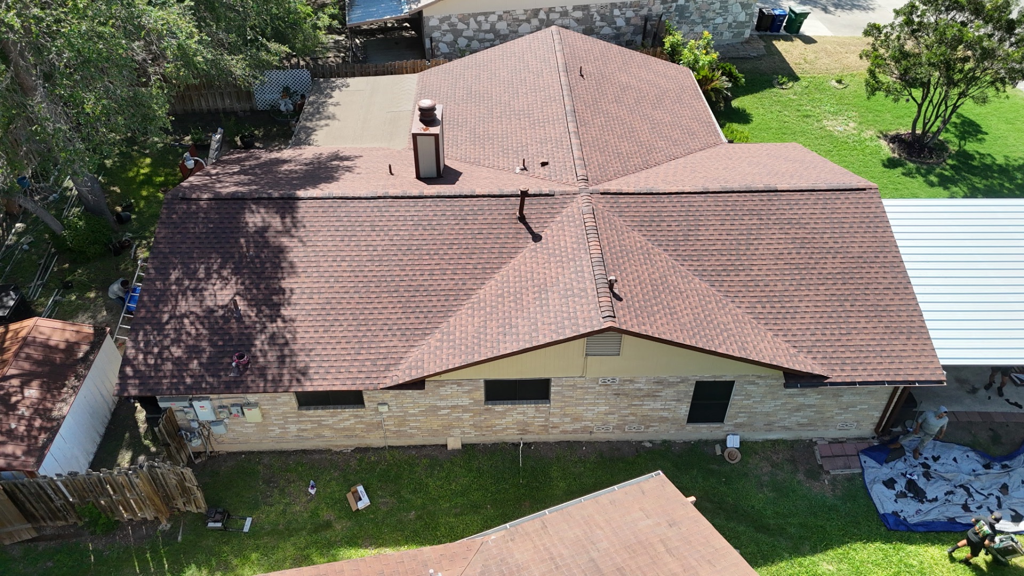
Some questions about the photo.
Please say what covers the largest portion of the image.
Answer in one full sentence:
The bulk of the photo consists of buildings.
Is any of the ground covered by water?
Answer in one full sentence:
No, the scene doesn't show any water.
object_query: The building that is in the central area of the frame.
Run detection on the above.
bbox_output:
[118,26,952,452]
